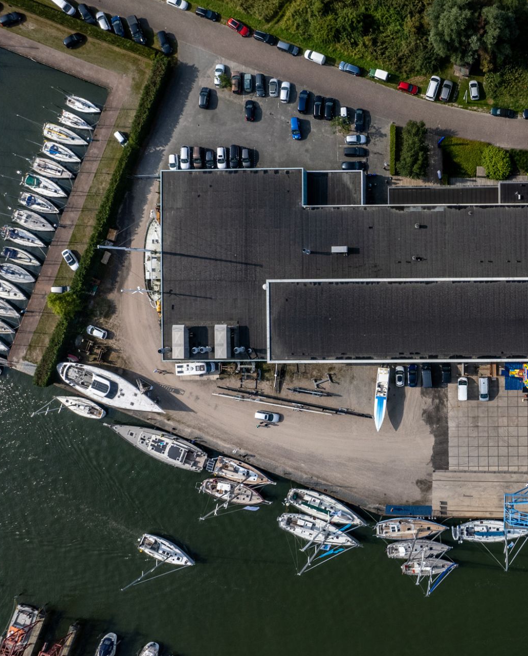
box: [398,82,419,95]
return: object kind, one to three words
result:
vehicle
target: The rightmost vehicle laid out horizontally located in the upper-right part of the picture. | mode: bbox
[490,106,514,119]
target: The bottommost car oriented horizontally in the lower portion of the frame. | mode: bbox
[255,410,280,423]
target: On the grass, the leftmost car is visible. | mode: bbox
[0,11,24,28]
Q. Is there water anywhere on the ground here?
Yes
